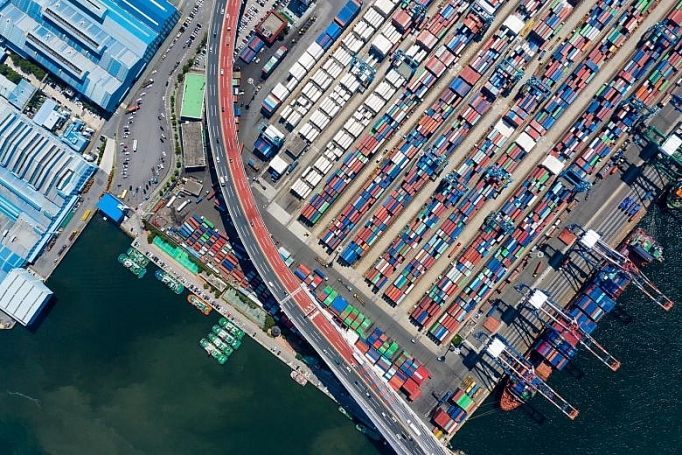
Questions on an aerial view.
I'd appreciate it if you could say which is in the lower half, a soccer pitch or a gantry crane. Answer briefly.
gantry crane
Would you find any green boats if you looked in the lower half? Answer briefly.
Yes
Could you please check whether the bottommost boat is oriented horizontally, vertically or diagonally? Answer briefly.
diagonally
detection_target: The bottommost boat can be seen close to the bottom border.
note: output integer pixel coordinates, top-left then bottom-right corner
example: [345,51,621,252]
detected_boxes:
[355,422,379,442]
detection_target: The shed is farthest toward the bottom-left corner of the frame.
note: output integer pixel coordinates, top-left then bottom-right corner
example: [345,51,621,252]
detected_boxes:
[0,266,64,325]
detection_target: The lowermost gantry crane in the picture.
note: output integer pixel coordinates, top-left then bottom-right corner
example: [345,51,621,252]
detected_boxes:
[476,328,577,419]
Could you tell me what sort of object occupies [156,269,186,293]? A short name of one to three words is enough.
boat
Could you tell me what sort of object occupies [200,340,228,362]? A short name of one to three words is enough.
boat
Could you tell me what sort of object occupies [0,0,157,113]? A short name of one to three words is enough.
warehouse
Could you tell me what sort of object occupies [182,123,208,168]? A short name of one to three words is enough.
building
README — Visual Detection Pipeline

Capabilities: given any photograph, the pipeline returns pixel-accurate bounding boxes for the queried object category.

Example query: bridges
[202,0,455,455]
